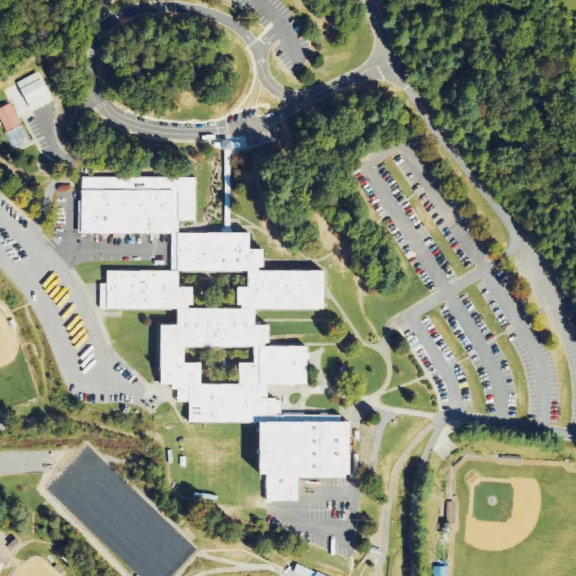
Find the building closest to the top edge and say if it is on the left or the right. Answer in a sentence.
The building closest to the top edge is on the left side of the image.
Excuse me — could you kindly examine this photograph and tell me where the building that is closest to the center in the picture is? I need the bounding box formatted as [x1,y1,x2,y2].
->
[237,270,324,309]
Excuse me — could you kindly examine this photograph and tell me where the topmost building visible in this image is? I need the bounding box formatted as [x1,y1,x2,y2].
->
[16,71,52,108]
